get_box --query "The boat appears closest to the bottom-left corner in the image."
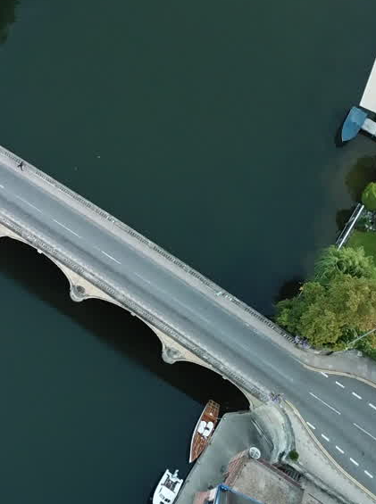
[153,468,185,504]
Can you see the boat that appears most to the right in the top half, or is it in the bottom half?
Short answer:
top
